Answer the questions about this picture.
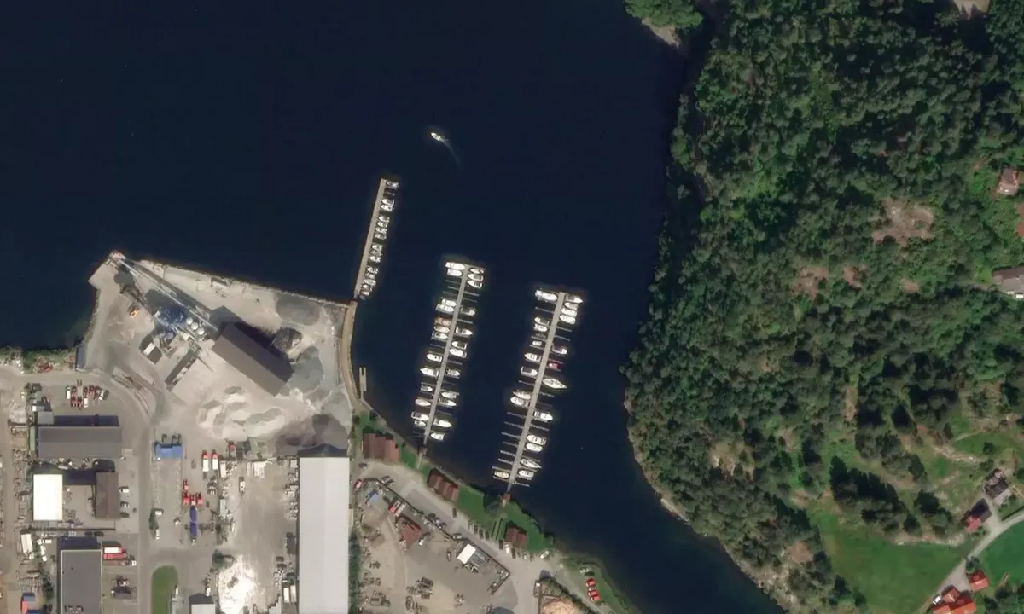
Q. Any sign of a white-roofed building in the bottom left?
Yes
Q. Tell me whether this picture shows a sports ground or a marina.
marina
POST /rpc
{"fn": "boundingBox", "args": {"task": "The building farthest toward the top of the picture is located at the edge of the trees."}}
[997,165,1022,188]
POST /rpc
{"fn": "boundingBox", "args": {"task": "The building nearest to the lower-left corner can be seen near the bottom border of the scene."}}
[61,549,103,614]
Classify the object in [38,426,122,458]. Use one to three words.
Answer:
building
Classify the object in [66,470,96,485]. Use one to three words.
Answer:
building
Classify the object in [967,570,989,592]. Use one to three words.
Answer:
house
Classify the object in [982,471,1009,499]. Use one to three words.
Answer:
house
